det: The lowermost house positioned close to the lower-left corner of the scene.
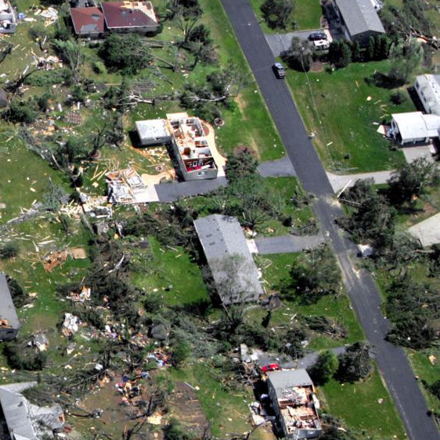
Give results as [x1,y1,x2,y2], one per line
[0,382,81,440]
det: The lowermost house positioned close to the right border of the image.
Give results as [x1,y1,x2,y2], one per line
[390,112,440,147]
